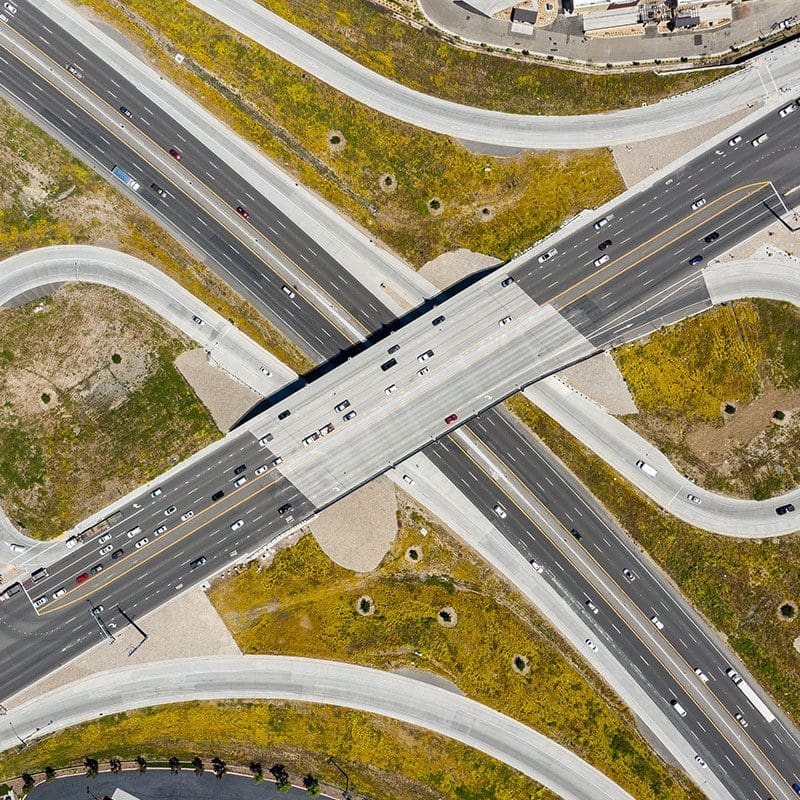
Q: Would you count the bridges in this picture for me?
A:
1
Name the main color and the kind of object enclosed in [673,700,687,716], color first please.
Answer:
white vehicle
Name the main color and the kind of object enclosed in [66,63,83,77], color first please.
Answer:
gray vehicle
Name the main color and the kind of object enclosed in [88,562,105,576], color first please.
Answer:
gray vehicle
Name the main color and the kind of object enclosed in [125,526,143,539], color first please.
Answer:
white vehicle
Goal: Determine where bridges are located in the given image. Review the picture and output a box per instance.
[240,264,607,515]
